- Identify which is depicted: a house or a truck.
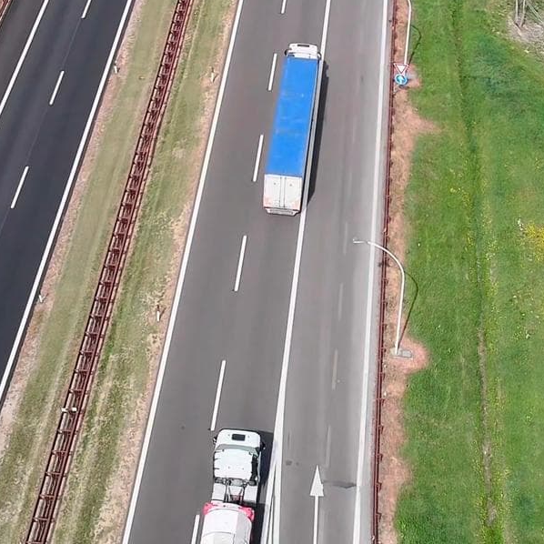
truck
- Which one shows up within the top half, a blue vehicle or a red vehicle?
blue vehicle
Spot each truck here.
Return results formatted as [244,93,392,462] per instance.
[198,428,265,544]
[264,43,323,214]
